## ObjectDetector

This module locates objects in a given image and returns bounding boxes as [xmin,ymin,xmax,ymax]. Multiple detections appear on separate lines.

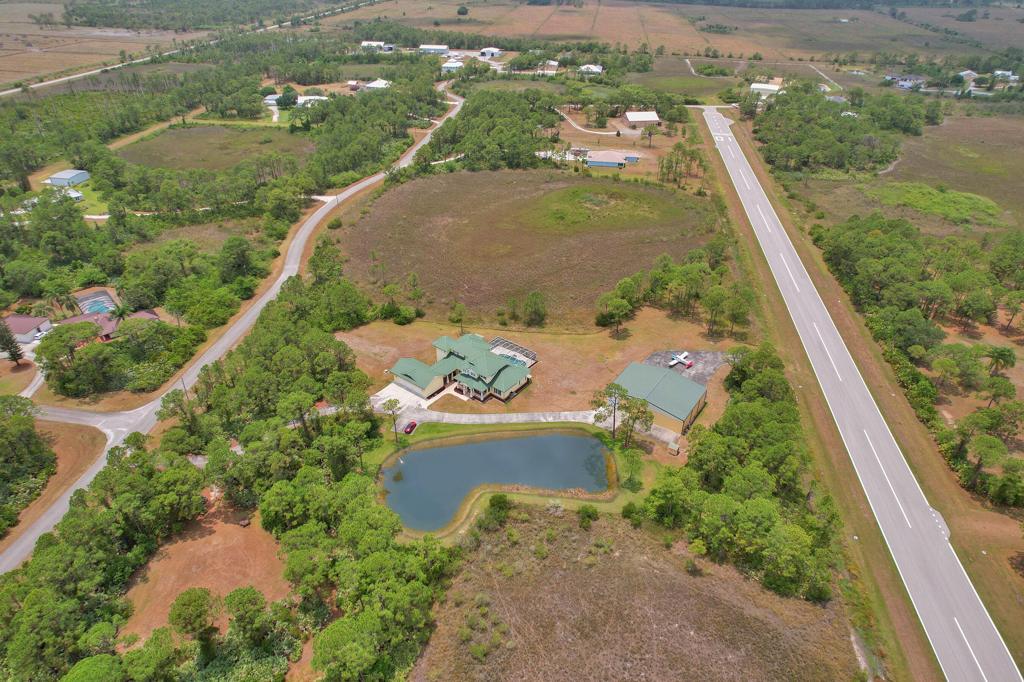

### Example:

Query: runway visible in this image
[703,103,1024,682]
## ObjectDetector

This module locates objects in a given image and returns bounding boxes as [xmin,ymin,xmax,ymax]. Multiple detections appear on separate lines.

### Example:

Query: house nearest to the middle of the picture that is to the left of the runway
[389,332,533,400]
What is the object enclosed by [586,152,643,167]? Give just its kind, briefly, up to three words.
house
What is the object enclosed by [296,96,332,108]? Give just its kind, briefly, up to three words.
house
